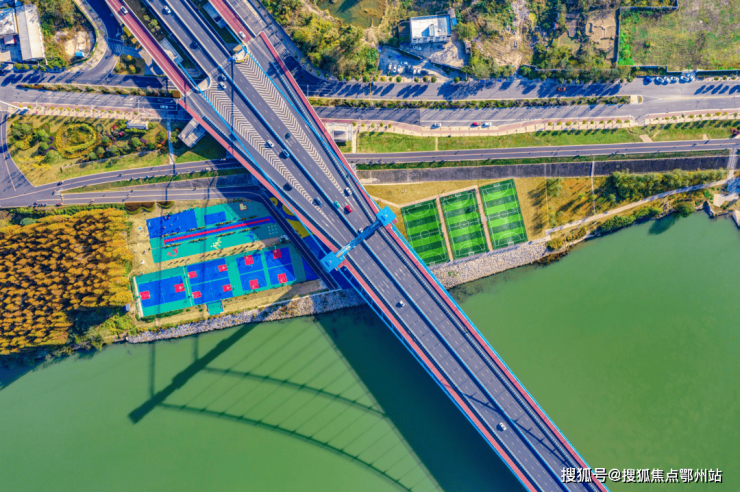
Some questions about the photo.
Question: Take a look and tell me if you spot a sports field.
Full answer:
Yes, this view includes a sports field.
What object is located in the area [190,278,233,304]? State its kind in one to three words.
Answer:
basketball court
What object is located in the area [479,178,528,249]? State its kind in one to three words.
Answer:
sports field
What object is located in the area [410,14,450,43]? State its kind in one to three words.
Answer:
building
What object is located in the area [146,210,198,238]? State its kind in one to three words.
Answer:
sports court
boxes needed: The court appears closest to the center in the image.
[264,247,295,285]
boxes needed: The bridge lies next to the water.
[106,0,609,492]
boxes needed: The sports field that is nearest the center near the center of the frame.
[401,199,449,266]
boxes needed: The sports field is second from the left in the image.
[439,189,490,259]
